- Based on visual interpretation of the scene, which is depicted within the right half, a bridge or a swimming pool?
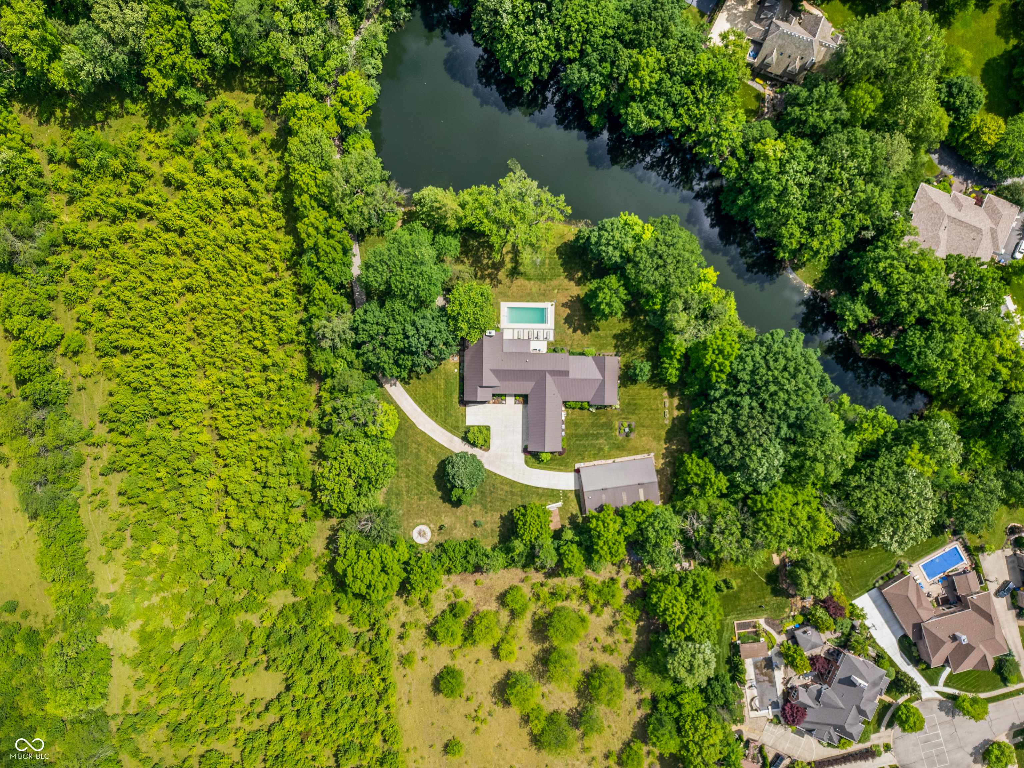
swimming pool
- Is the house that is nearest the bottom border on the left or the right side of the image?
right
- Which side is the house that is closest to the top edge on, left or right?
right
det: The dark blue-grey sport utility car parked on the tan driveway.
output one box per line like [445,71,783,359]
[994,581,1015,599]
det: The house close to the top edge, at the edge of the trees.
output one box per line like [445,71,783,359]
[747,0,837,90]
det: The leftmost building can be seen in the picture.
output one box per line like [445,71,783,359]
[464,330,619,452]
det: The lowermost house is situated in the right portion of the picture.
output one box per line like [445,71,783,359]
[789,647,887,746]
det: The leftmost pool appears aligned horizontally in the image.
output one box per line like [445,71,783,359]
[501,302,554,328]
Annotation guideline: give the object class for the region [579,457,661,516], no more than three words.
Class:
barn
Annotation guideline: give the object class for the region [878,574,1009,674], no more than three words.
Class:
house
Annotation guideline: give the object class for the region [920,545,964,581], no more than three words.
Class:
swimming pool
